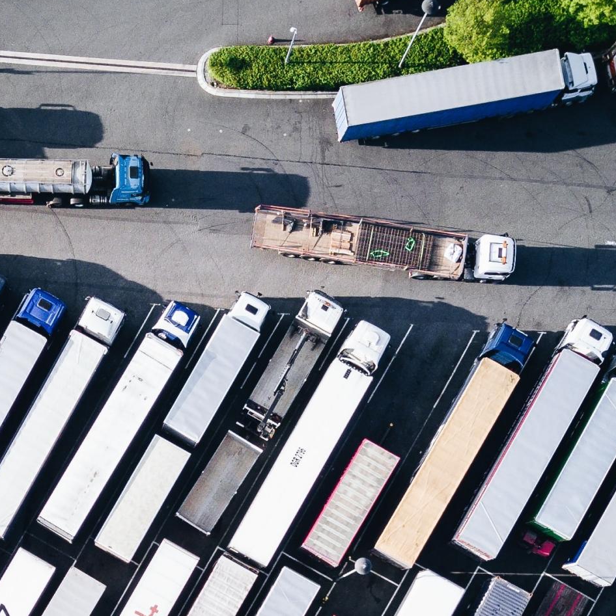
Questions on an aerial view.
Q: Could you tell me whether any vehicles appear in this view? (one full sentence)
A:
Yes, looking at the shot, I can spot a vehicle.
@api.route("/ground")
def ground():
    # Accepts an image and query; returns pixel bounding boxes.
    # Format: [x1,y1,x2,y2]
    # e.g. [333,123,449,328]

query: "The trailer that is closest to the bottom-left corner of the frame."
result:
[0,548,56,616]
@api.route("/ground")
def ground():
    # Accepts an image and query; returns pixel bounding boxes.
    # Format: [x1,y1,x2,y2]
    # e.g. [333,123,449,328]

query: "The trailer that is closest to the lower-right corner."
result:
[536,582,588,616]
